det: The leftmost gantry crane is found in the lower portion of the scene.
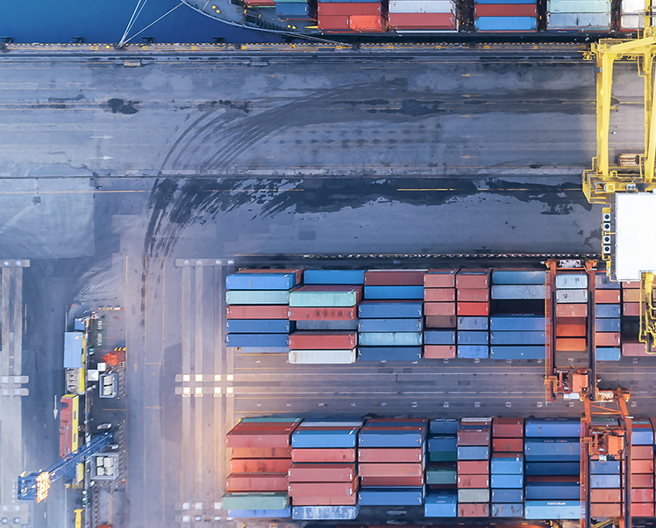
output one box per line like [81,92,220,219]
[543,260,600,406]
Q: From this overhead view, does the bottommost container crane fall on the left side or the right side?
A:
right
